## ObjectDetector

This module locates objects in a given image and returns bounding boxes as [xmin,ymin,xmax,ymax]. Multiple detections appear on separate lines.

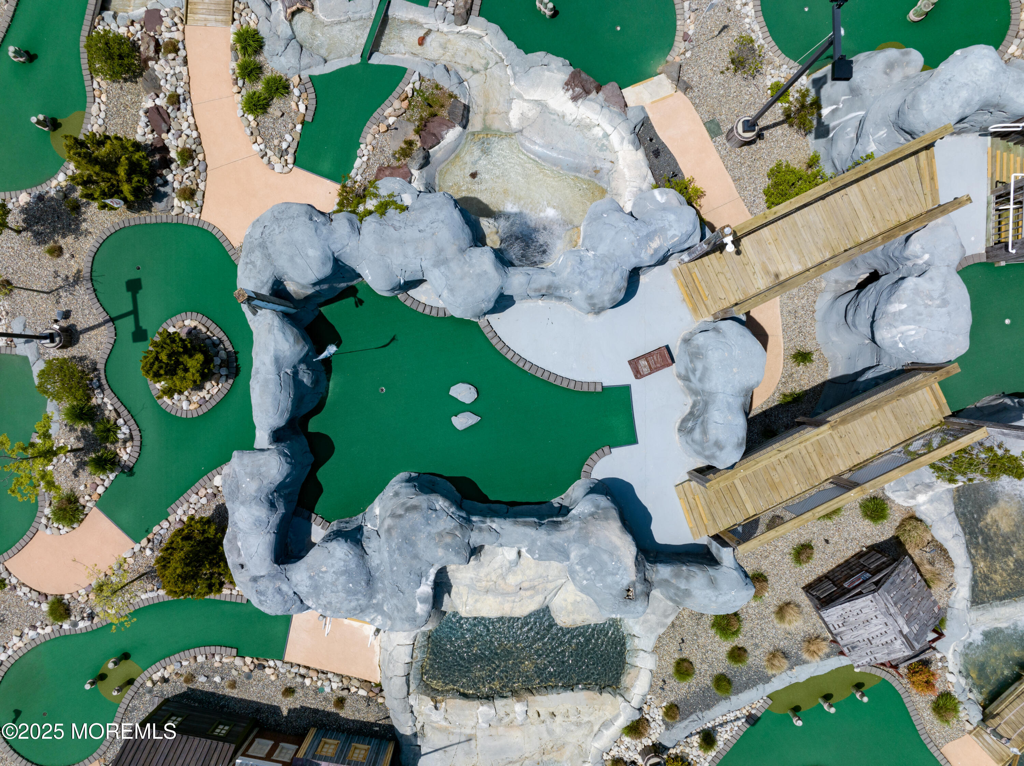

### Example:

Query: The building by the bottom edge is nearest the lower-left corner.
[117,698,256,766]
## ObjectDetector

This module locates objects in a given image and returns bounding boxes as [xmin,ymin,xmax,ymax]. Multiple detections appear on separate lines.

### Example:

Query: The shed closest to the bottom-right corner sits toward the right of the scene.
[802,546,960,680]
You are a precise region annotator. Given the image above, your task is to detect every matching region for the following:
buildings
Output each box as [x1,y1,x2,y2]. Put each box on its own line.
[802,546,960,680]
[117,698,256,766]
[288,725,394,766]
